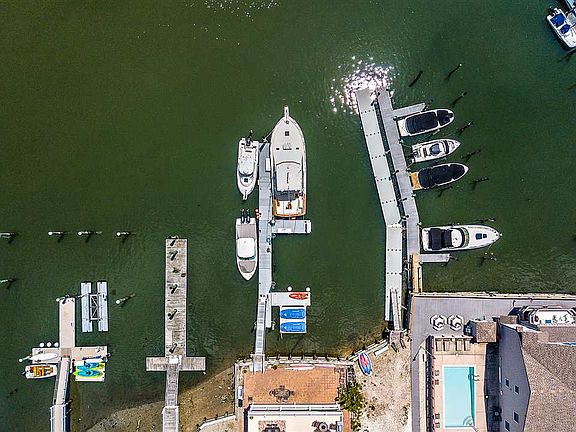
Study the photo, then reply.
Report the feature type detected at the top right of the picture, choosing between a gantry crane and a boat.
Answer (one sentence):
Visible at the top right of the picture is a boat.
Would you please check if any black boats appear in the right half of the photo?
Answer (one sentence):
Yes, you'll find a black boat in the right half of the photo.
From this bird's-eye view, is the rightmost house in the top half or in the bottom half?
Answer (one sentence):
The rightmost house sits in the bottom half of the picture.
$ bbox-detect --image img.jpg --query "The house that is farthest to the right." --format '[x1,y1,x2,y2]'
[490,303,576,432]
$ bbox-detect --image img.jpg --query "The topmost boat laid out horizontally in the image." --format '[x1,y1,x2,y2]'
[394,111,454,137]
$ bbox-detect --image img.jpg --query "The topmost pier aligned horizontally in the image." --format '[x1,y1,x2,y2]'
[272,292,310,305]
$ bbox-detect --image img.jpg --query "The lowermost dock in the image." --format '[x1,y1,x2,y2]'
[47,400,75,432]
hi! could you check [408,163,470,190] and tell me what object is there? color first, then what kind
black boat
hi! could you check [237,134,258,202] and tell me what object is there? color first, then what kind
white boat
